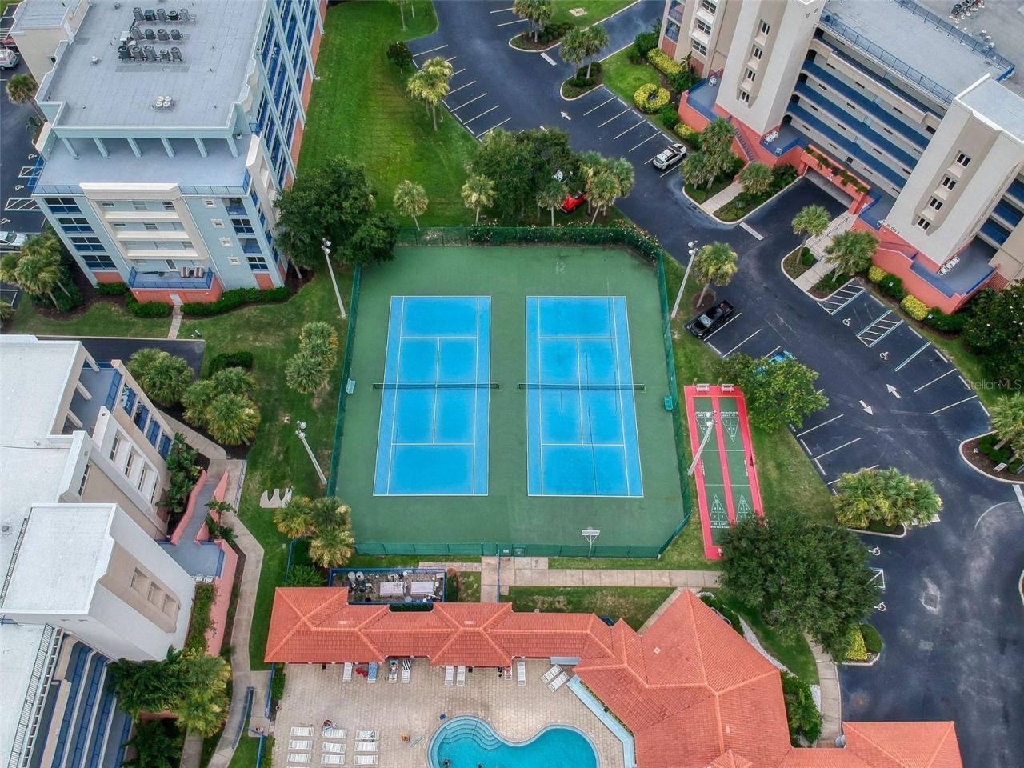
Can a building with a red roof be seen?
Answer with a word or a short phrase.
Yes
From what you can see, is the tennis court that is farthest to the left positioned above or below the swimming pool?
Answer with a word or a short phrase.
above it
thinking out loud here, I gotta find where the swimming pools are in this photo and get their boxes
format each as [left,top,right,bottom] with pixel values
[427,715,601,768]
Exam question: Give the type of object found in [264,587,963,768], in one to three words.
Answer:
building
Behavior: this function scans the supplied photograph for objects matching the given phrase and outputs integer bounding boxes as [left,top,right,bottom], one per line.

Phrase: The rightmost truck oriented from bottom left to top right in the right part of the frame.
[685,297,738,338]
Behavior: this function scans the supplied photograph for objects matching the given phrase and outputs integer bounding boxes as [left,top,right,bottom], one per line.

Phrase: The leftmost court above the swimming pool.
[331,250,508,555]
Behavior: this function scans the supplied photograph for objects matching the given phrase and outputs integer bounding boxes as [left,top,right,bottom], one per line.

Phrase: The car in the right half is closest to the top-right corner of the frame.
[651,144,687,171]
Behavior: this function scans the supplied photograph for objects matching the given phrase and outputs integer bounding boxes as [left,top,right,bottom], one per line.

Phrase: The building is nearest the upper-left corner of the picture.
[8,0,327,305]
